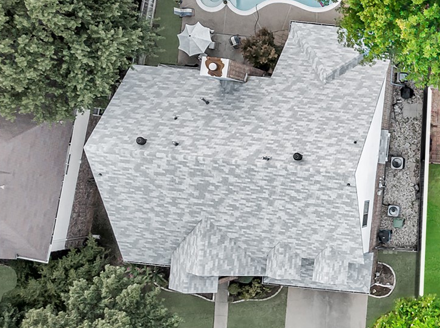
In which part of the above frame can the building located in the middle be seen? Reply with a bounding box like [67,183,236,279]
[85,20,392,295]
